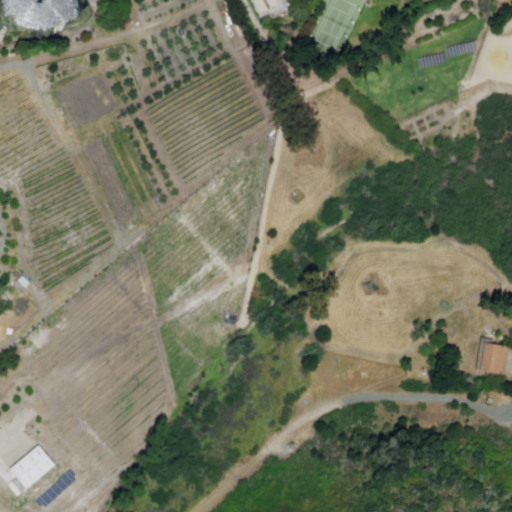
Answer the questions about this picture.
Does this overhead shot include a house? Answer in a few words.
Yes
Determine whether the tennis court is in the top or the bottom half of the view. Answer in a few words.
top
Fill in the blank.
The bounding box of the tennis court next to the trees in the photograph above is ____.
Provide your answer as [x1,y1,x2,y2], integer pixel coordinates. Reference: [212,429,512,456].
[307,0,370,58]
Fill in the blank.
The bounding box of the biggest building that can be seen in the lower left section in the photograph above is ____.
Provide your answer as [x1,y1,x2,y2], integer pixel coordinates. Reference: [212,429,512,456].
[9,444,55,494]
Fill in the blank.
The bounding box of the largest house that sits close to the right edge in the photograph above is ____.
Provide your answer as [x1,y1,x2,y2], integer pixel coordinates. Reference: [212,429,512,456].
[476,339,510,374]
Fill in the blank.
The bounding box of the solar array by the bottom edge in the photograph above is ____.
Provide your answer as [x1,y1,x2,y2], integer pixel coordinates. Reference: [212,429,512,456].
[37,471,76,507]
